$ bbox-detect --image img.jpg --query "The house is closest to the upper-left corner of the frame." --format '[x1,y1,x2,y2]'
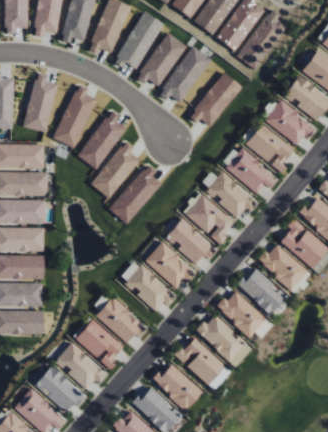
[4,0,28,34]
